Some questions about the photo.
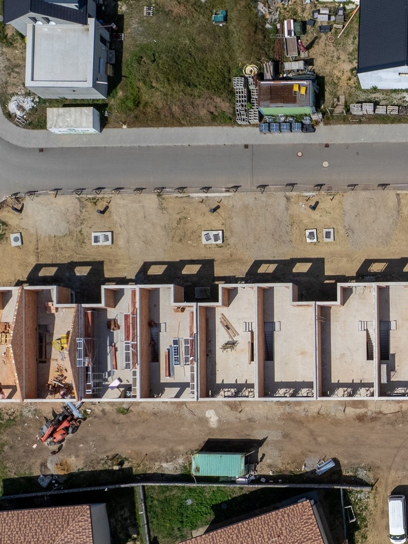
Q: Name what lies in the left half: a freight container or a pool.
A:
freight container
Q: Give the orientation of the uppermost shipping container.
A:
horizontally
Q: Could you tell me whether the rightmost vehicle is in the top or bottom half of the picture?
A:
bottom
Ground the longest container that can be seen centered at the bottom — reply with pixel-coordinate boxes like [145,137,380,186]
[190,447,261,476]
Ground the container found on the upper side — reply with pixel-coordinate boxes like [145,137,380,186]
[47,107,103,134]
